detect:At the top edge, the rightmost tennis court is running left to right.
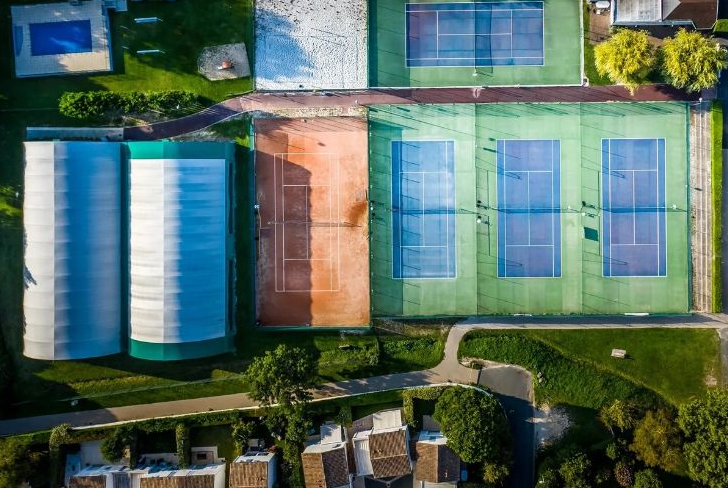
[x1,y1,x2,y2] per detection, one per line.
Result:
[369,0,582,87]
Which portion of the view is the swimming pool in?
top left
